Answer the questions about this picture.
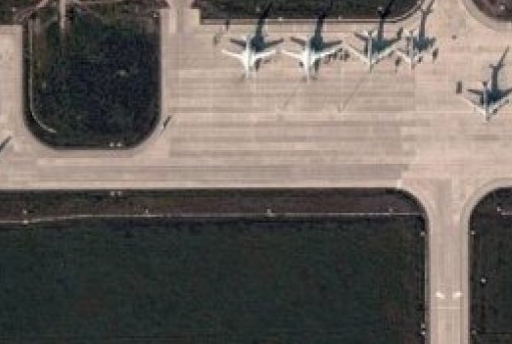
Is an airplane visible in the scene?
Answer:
Yes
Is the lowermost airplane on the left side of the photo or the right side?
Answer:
right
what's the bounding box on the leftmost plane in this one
[221,29,276,80]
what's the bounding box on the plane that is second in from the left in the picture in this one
[281,31,336,82]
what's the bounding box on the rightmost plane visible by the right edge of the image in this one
[462,79,509,121]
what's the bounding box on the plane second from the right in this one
[396,30,428,71]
